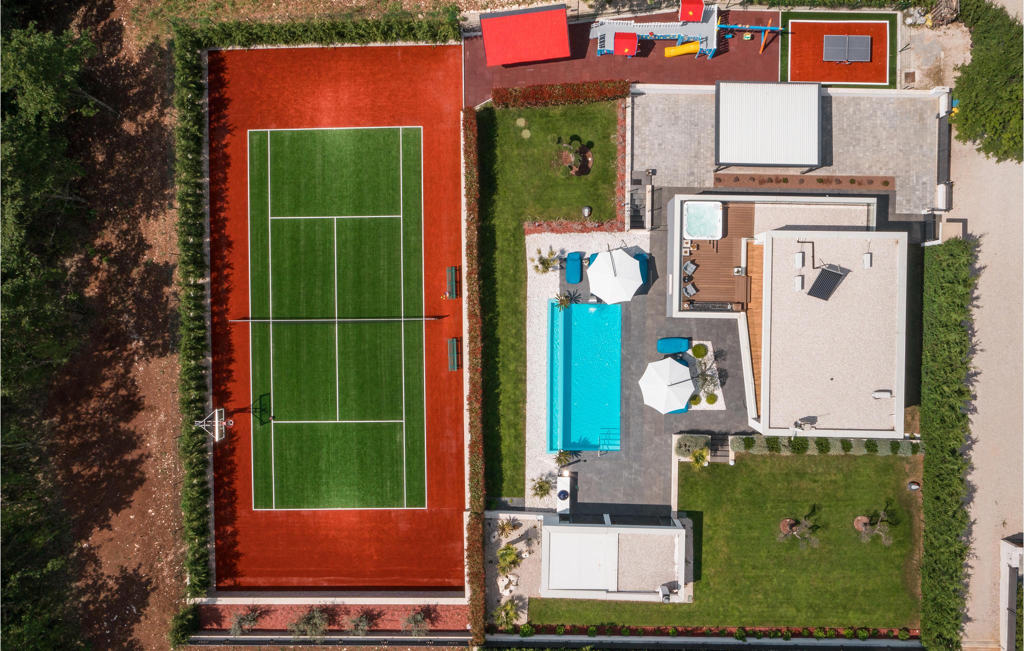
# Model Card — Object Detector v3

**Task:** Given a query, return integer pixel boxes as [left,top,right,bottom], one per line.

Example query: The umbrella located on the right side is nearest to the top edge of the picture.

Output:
[587,236,643,304]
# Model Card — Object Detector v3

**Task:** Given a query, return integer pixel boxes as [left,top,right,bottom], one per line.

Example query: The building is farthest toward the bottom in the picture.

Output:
[540,513,685,604]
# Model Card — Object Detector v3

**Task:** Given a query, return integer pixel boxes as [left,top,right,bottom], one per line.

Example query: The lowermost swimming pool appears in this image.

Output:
[546,299,621,454]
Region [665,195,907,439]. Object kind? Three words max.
house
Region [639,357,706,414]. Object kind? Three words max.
umbrella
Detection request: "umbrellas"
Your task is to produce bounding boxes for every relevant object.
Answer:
[587,236,643,304]
[639,357,706,414]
